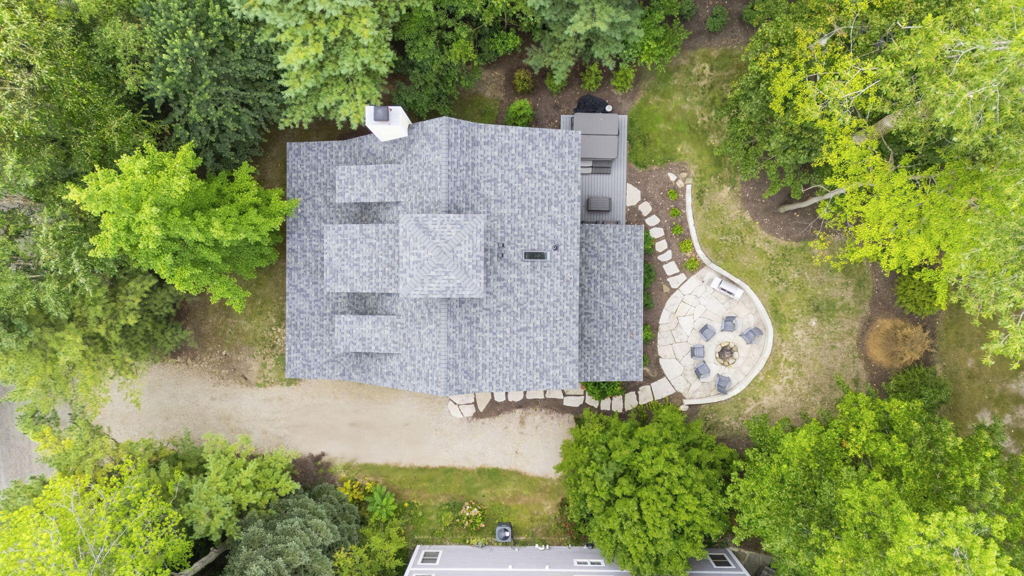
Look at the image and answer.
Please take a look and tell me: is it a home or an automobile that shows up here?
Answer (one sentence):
The one in the frame is a home.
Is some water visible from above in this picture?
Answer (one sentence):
No, there's no water in this view.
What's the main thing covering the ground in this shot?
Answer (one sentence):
What you mostly see from above here is trees.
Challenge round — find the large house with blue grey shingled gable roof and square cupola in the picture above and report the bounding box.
[286,104,644,396]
